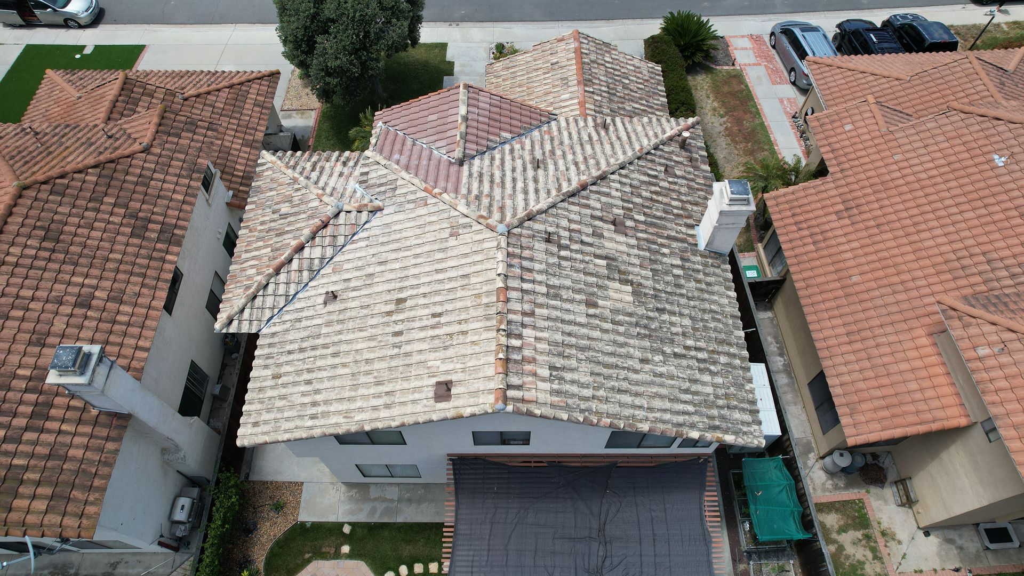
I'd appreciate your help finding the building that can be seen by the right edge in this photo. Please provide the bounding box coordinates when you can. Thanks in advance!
[752,45,1024,526]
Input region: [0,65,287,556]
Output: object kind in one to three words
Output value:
house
